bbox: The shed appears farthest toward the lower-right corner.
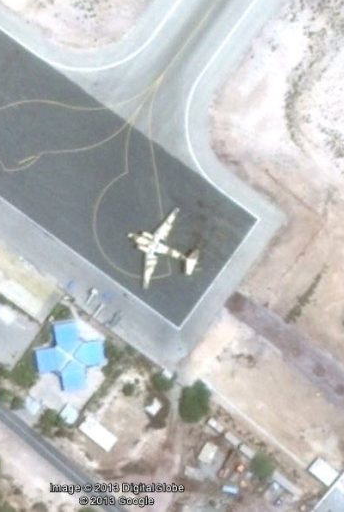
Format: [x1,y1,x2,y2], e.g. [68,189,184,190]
[309,457,340,487]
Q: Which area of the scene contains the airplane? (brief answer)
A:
center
